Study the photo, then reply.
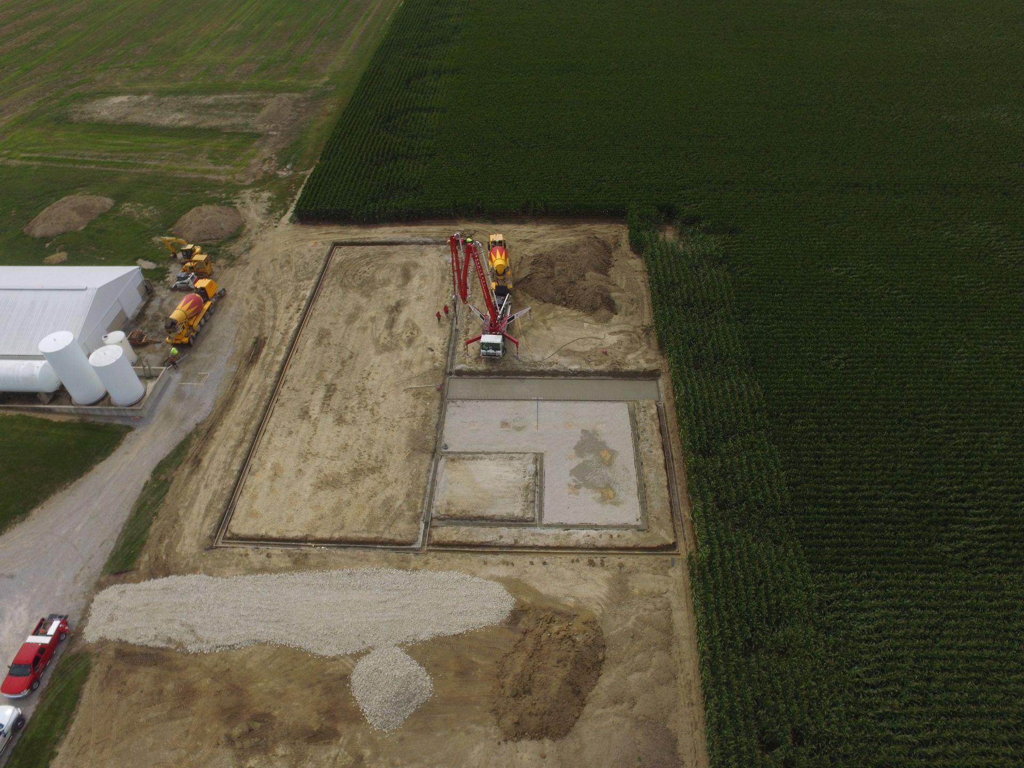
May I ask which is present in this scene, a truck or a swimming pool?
truck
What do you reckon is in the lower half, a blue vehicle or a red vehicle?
red vehicle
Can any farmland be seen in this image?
Yes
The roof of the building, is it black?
No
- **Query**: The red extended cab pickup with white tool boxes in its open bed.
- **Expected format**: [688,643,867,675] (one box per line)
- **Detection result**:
[5,620,70,699]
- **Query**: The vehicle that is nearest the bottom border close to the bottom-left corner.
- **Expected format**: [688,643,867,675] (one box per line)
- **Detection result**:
[0,706,28,763]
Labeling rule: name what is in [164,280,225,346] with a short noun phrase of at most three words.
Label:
truck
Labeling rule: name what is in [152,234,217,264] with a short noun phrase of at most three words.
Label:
work vehicle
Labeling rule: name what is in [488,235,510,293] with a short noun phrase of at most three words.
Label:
truck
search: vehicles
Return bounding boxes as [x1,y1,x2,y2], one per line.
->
[164,280,225,346]
[168,270,197,290]
[0,706,28,763]
[488,235,510,293]
[175,257,216,280]
[450,229,533,360]
[5,620,70,699]
[152,234,217,264]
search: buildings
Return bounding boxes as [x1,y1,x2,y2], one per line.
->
[0,266,154,371]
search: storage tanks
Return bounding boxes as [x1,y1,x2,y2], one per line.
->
[89,346,145,407]
[102,329,141,366]
[0,364,69,400]
[39,332,106,405]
